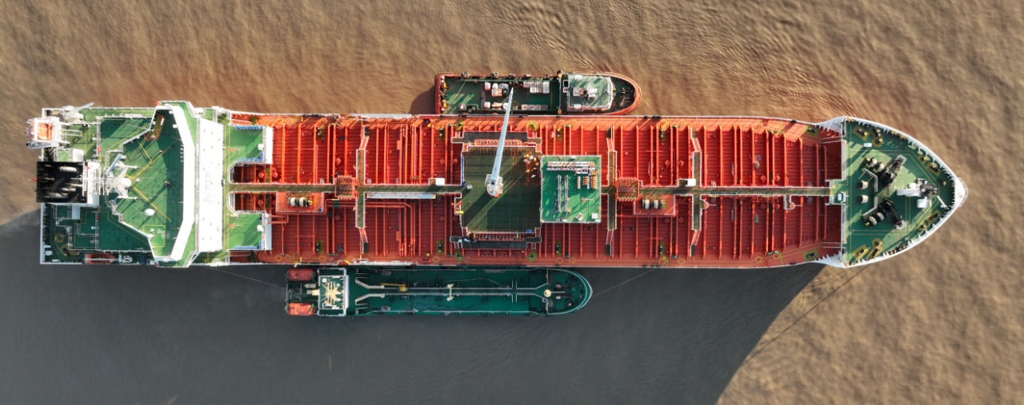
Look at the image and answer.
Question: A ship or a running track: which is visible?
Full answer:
It is a ship that can be seen here.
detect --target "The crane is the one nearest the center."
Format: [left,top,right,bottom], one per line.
[480,89,513,206]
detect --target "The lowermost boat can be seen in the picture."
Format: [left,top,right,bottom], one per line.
[286,302,316,316]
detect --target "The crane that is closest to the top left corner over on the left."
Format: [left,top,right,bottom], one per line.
[51,101,95,126]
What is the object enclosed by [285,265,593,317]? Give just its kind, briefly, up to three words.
ship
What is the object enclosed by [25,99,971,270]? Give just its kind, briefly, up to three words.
ship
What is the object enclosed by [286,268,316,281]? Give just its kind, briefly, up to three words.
boat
